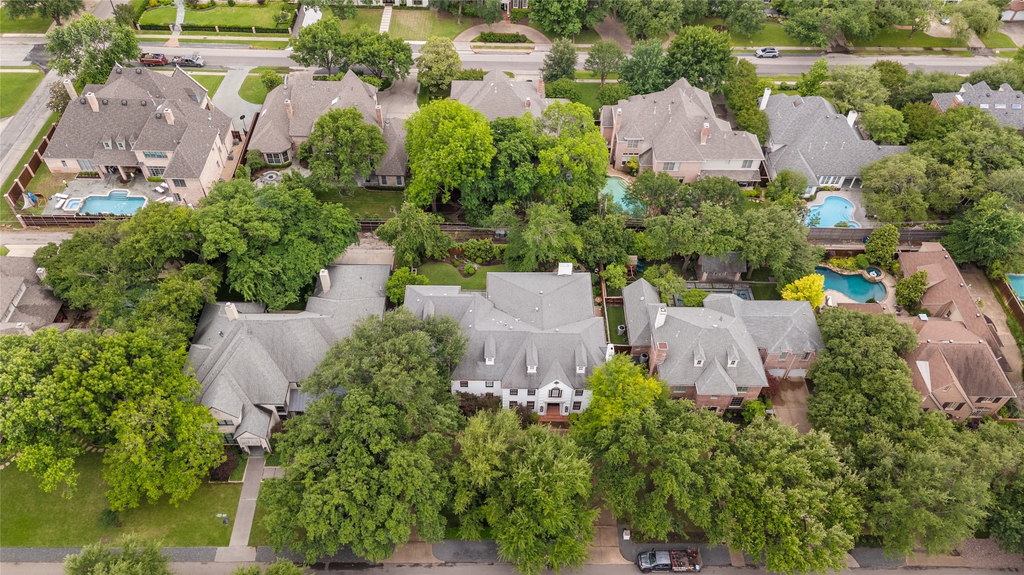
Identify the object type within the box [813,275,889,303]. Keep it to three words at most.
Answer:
swimming pool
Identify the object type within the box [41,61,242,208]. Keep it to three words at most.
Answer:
house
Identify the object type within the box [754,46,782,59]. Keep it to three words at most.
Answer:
vehicle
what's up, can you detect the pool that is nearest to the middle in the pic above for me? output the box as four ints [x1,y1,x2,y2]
[599,174,648,216]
